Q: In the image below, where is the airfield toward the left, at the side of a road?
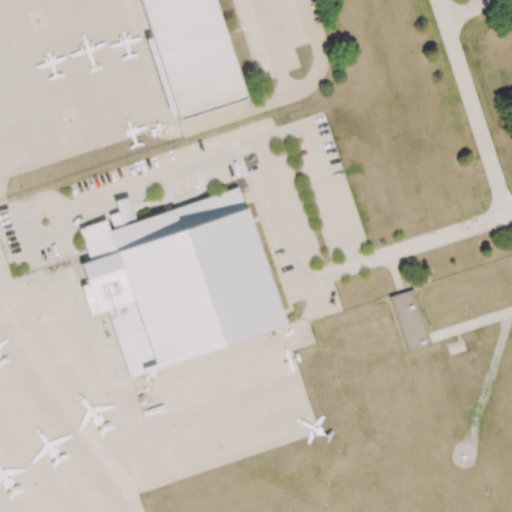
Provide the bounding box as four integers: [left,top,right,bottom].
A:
[0,0,316,512]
